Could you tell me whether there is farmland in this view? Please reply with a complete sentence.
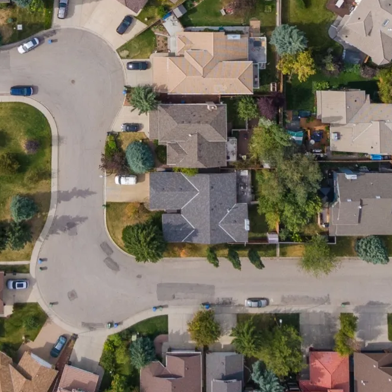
No, there is no farmland in the image.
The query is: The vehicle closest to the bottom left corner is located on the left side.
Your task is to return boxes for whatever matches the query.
[50,333,67,356]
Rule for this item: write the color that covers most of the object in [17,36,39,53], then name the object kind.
white car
